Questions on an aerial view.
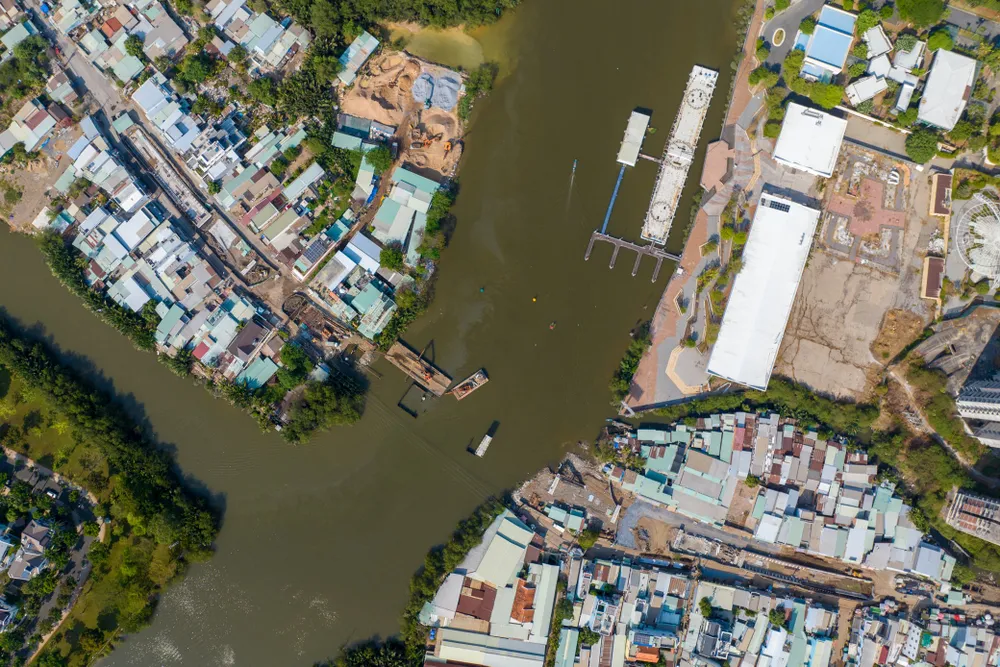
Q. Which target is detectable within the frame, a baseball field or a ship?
ship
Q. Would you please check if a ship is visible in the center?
Yes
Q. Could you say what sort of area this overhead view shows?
residential area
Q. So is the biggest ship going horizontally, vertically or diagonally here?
diagonally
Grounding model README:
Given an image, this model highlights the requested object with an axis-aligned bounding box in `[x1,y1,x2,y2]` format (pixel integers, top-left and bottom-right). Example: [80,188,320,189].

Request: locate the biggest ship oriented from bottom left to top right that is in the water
[449,369,488,400]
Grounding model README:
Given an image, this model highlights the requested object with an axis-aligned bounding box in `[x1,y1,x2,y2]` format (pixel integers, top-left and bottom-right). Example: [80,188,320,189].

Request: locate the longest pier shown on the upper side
[639,65,719,246]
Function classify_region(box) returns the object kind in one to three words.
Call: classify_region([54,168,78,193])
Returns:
house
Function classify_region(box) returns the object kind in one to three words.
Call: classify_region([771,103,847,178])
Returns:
building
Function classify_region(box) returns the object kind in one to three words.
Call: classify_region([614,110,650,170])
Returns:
pier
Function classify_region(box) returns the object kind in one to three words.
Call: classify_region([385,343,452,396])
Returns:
ship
